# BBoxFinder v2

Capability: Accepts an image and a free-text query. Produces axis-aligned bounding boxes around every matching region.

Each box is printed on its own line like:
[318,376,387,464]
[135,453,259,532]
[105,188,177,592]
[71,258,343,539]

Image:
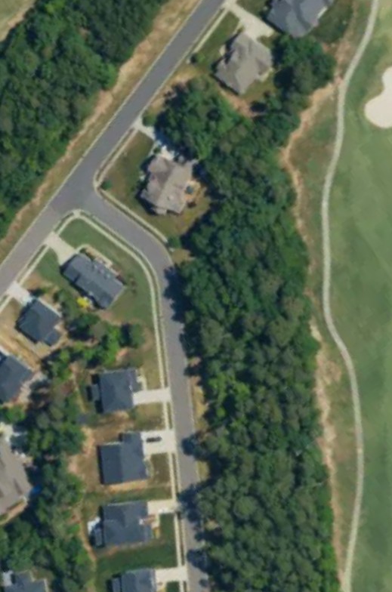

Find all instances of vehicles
[148,436,161,442]
[157,507,170,513]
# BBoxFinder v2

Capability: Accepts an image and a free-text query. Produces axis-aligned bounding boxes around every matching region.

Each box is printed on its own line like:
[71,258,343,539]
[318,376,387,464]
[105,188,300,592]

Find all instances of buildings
[110,568,156,592]
[90,367,143,410]
[211,26,276,92]
[137,150,198,218]
[93,501,155,546]
[58,248,124,314]
[263,0,334,41]
[15,297,63,344]
[0,427,33,512]
[0,350,35,408]
[97,430,149,484]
